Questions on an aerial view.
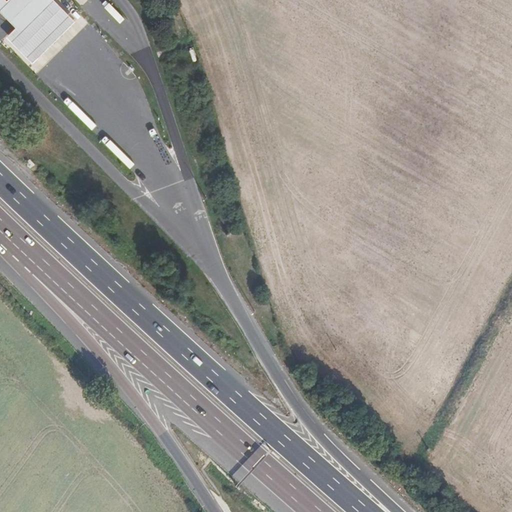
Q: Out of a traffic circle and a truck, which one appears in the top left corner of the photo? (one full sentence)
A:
The feature located in the top left corner of the photo is a truck.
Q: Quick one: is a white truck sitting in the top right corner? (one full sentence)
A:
No, no white truck appears in the top right corner.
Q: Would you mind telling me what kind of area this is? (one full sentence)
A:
What you see here is farmland.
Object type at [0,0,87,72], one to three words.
building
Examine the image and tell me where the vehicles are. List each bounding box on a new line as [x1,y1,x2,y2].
[135,169,146,180]
[243,442,254,452]
[63,96,96,130]
[189,48,198,63]
[150,129,170,164]
[208,384,219,394]
[69,9,82,20]
[196,406,207,416]
[3,228,13,238]
[24,236,36,246]
[153,322,164,332]
[60,0,70,8]
[190,353,204,366]
[6,185,17,196]
[0,245,6,254]
[100,0,124,24]
[101,134,134,168]
[125,352,136,364]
